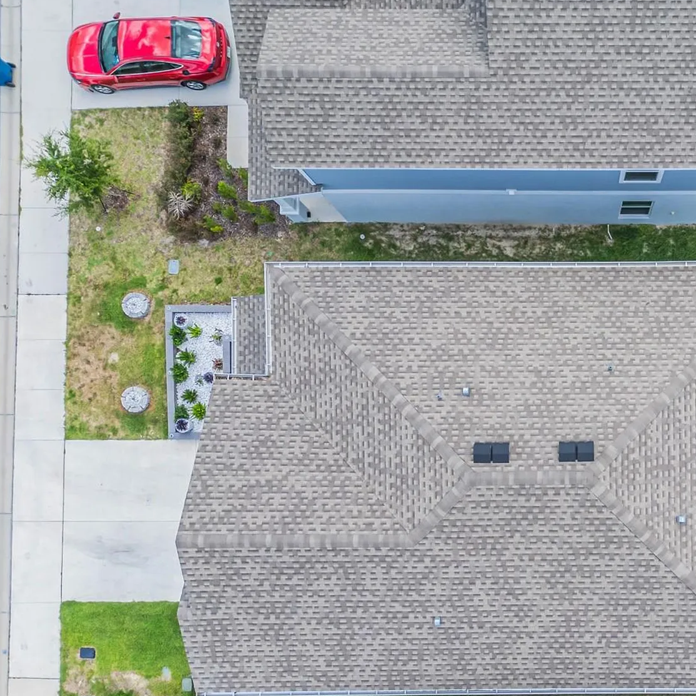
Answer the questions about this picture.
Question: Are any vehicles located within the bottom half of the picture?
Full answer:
No, no vehicle is visible within the bottom half of the picture.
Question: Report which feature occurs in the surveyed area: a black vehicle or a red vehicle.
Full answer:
This aerial view contains a red vehicle.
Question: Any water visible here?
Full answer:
No, water can't be seen anywhere here.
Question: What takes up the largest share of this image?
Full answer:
The scene is dominated by buildings.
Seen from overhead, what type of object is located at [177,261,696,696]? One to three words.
house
